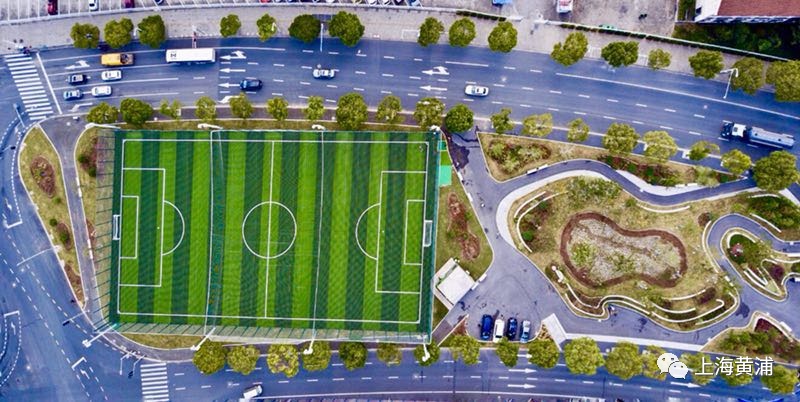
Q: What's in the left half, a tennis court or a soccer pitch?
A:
soccer pitch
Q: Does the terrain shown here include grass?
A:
Yes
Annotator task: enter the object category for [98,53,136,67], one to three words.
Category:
vehicle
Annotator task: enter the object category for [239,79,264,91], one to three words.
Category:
vehicle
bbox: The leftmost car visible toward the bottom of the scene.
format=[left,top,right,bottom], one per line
[241,383,265,400]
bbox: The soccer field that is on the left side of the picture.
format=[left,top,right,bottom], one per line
[109,130,440,334]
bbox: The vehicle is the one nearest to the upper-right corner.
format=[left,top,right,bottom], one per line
[719,123,797,149]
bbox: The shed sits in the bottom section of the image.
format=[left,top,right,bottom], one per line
[438,264,474,301]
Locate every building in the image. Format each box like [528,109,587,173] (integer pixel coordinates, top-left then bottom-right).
[701,0,800,20]
[438,264,474,301]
